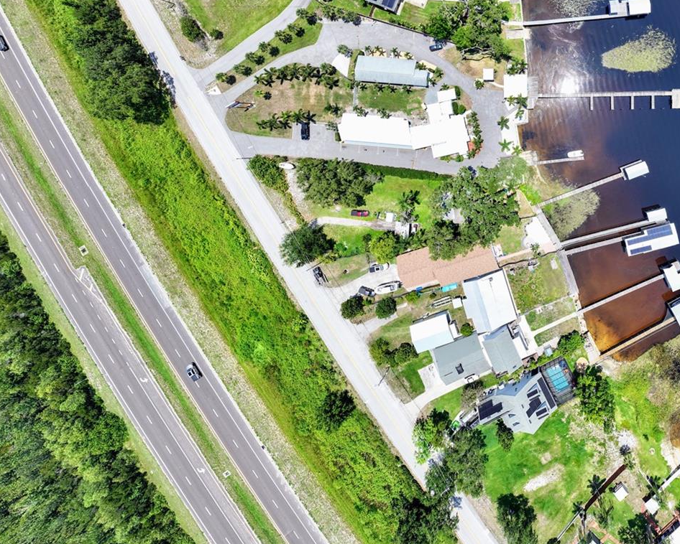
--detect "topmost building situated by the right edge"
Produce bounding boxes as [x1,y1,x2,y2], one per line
[627,0,650,16]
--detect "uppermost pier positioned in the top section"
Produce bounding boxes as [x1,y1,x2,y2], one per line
[505,0,628,24]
